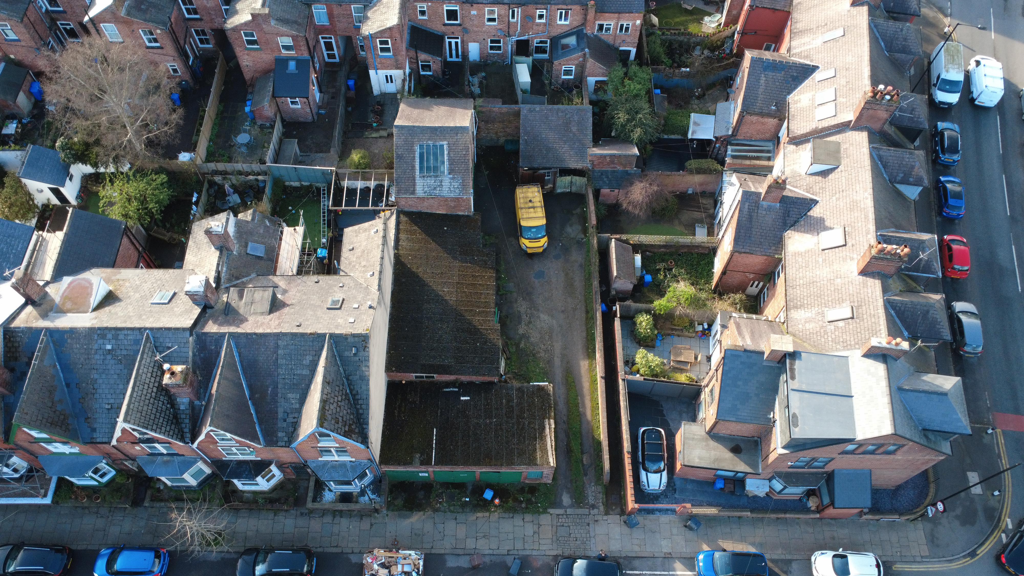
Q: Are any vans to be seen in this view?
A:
Yes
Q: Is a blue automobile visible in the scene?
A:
Yes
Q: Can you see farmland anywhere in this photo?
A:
No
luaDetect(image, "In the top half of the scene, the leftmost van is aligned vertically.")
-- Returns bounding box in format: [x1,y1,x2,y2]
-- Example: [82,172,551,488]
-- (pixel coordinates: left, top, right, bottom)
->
[516,181,551,255]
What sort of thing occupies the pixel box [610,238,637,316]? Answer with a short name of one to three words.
shed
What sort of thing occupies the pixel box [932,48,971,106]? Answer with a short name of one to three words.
van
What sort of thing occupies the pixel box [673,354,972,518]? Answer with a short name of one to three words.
house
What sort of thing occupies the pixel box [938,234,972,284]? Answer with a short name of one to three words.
car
